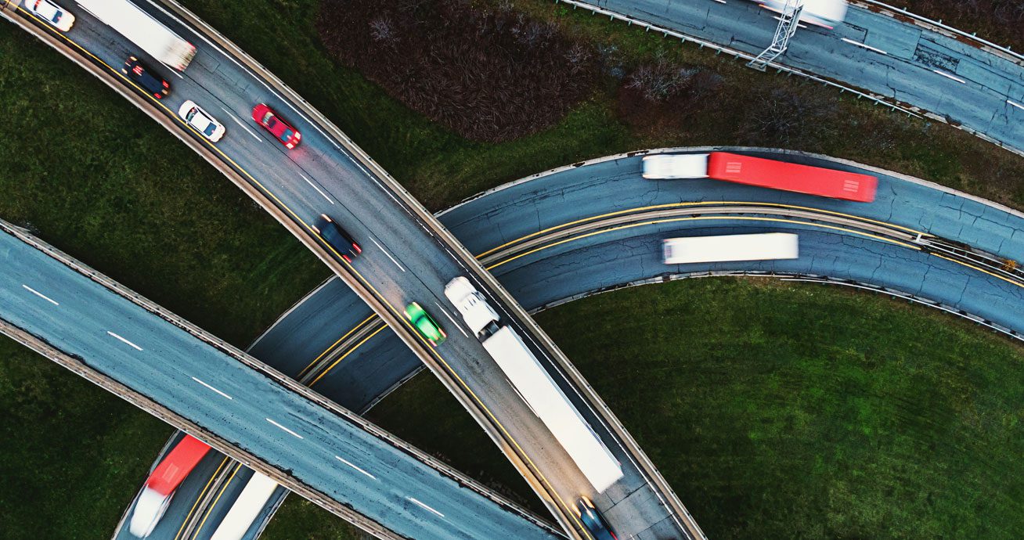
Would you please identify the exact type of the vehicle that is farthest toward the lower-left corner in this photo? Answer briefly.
truck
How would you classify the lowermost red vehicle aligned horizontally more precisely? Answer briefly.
truck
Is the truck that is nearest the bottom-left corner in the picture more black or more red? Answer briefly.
red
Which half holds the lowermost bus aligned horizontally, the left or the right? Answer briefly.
right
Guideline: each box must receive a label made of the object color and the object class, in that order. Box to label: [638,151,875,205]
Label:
red truck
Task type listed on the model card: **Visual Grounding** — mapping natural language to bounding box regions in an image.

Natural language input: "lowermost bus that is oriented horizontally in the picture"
[660,231,796,264]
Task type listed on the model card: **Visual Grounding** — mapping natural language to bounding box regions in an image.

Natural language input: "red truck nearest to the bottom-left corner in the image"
[138,431,215,534]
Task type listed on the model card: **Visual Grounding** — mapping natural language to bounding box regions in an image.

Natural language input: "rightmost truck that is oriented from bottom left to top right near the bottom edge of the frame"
[211,469,282,540]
